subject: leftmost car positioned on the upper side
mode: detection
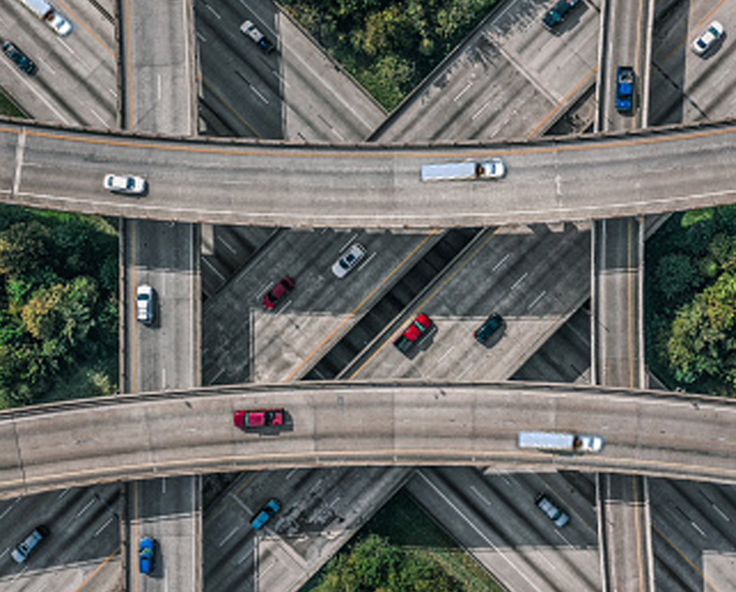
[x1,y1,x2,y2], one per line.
[1,40,36,74]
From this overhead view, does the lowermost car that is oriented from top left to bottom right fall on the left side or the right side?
right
